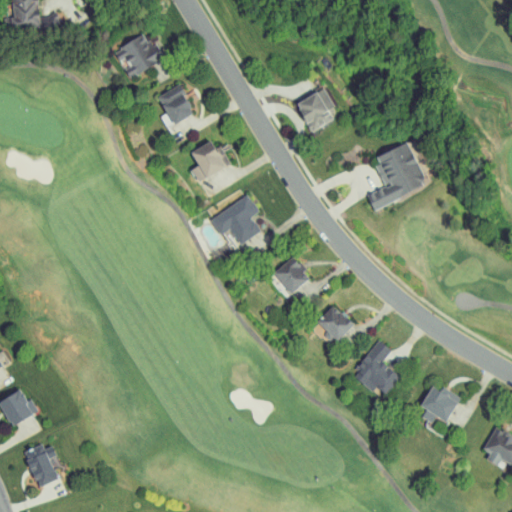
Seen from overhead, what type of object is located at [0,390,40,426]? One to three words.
house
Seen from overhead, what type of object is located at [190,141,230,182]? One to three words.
house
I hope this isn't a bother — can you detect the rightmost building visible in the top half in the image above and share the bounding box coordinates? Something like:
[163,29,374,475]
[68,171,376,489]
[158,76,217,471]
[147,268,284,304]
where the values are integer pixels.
[368,143,426,210]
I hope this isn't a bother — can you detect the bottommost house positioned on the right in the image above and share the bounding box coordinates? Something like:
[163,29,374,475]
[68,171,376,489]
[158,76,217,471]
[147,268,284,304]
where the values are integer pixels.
[484,426,512,471]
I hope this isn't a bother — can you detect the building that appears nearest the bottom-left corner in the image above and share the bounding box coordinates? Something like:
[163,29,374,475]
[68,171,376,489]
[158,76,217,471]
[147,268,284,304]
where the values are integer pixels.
[23,444,66,488]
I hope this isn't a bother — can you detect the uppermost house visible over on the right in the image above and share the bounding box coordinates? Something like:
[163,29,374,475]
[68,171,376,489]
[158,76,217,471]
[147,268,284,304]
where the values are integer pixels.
[298,88,337,132]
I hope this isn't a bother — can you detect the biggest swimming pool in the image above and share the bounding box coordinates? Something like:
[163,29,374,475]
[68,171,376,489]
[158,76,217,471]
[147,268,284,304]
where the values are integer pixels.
[202,224,220,248]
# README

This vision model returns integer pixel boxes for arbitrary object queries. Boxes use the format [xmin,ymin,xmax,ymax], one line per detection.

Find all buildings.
[4,0,54,26]
[116,34,163,80]
[275,258,310,293]
[356,341,398,396]
[208,190,260,243]
[0,390,40,426]
[298,88,337,132]
[314,306,354,340]
[368,143,426,210]
[423,388,462,423]
[23,444,66,488]
[190,141,230,182]
[484,426,512,471]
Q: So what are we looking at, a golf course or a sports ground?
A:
golf course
